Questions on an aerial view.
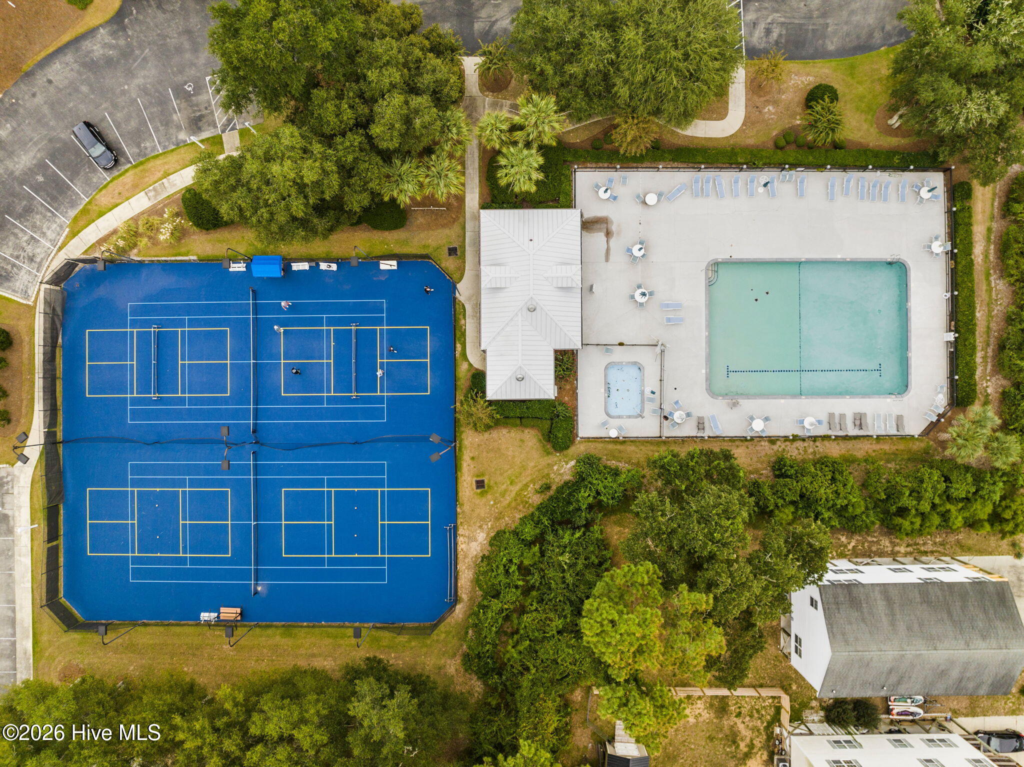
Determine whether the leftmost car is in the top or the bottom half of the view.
top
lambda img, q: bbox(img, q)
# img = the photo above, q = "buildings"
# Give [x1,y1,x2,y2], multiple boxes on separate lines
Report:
[780,556,1024,697]
[780,719,1015,767]
[606,741,649,767]
[479,208,583,400]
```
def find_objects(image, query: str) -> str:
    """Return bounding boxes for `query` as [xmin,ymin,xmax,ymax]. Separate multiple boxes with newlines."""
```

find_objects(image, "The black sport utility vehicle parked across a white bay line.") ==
[70,116,118,173]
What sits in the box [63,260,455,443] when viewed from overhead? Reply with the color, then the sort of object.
blue tennis court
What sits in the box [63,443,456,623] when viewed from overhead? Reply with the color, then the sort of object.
blue tennis court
